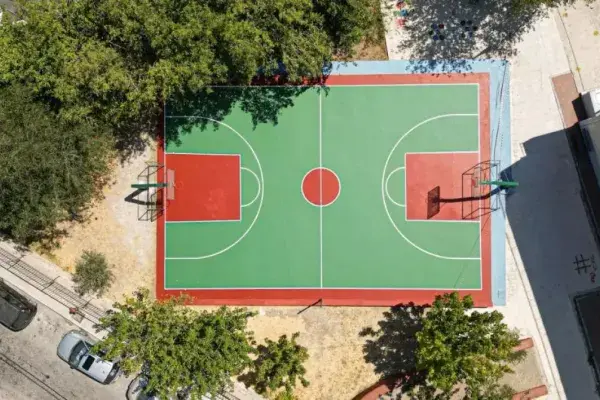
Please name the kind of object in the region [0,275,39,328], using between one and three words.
car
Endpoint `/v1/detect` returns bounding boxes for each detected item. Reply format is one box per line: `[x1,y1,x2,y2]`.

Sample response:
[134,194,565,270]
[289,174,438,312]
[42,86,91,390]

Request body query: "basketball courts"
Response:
[156,61,510,307]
